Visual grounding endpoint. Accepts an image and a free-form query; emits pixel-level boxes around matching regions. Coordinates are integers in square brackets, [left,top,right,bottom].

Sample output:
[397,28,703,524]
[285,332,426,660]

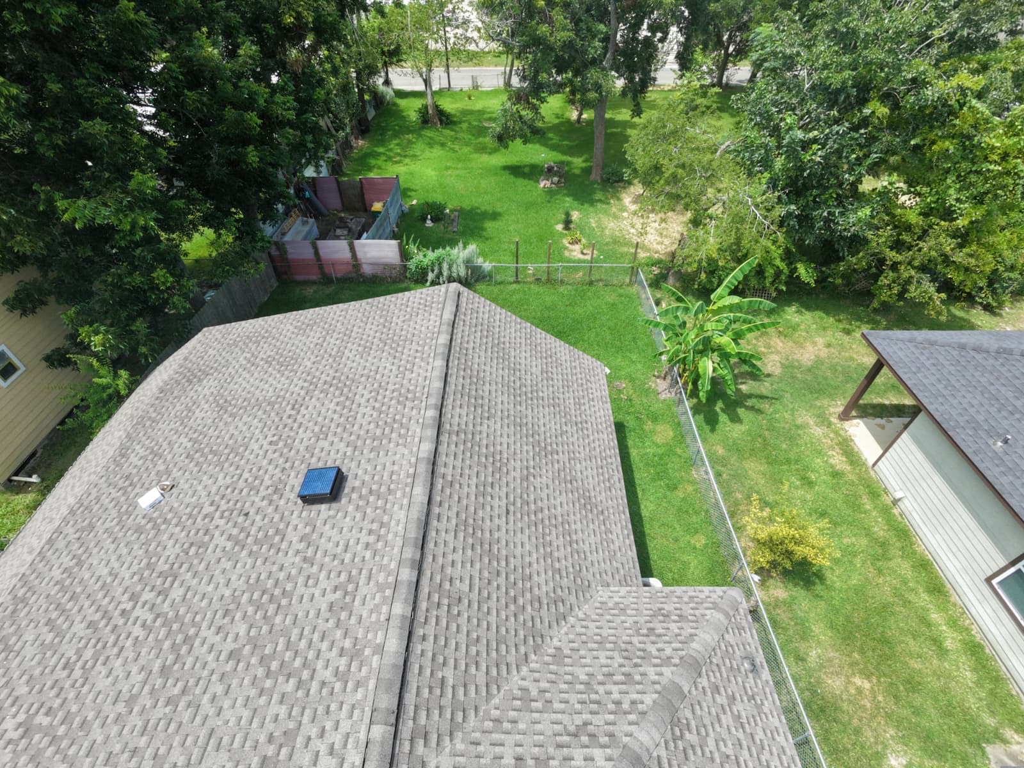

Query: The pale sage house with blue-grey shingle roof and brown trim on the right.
[843,330,1024,705]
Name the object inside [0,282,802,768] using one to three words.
house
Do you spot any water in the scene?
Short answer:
No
